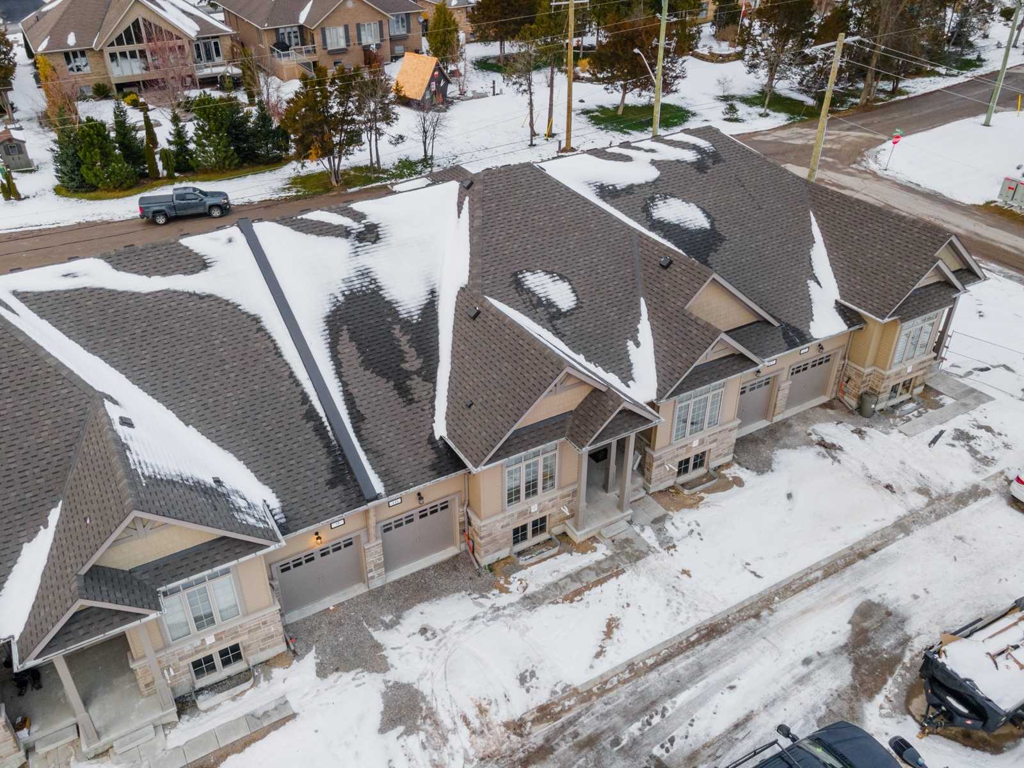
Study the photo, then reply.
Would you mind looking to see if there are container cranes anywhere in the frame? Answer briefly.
No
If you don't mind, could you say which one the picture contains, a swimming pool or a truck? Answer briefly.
truck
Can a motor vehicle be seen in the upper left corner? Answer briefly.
Yes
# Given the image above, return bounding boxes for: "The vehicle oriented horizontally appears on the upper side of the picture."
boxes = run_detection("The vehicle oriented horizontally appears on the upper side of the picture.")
[137,183,230,222]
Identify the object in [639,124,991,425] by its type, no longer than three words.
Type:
house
